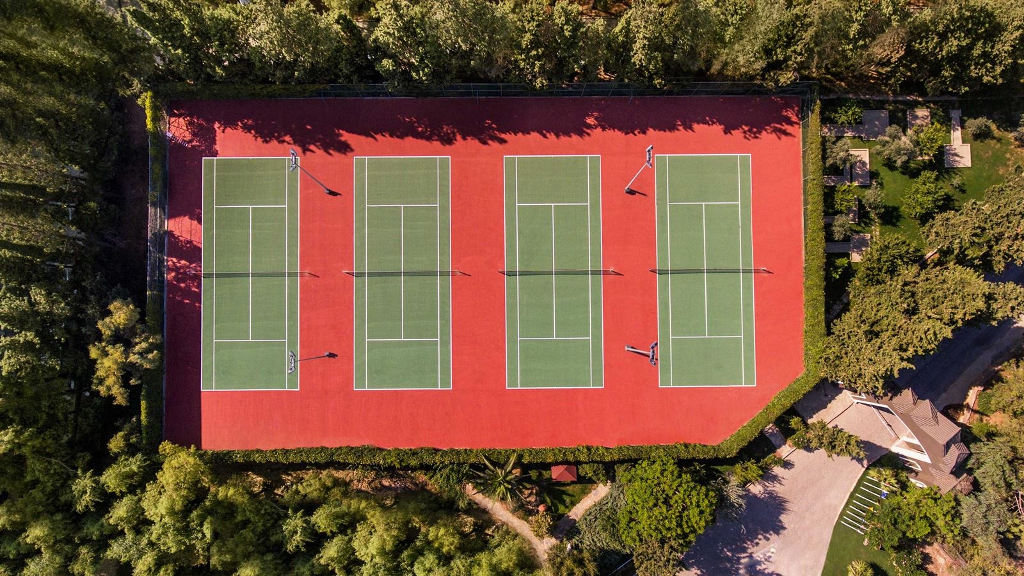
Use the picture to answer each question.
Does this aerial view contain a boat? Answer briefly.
No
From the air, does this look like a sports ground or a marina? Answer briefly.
sports ground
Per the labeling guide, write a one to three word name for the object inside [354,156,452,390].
tennis court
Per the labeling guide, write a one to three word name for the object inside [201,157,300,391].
tennis court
